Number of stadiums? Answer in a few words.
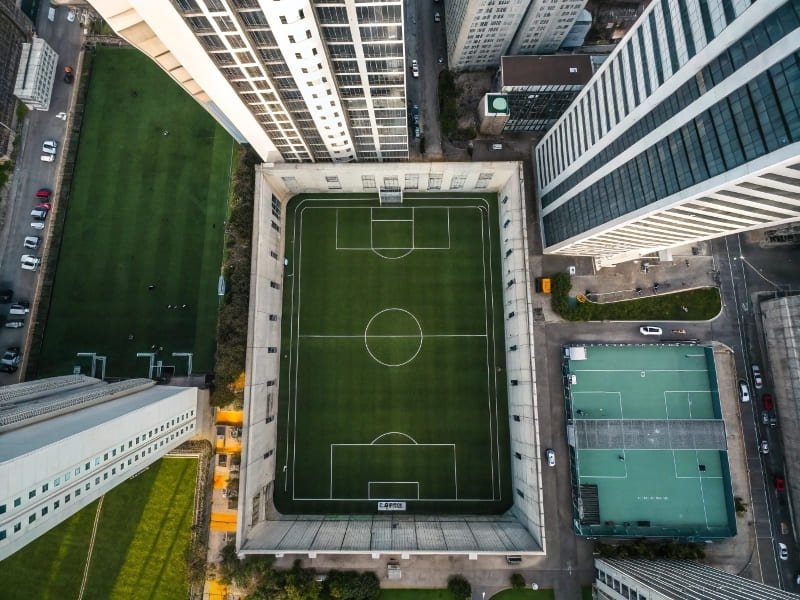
one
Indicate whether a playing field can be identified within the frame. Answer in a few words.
Yes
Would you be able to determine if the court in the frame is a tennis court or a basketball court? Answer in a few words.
tennis court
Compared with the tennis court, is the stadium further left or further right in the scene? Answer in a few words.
to its left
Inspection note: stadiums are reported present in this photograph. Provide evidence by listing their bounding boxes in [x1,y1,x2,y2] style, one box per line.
[236,160,547,561]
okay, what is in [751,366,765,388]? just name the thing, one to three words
car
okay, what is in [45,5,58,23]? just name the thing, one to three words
vehicle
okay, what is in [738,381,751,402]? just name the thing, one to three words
vehicle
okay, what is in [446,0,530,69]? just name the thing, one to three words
building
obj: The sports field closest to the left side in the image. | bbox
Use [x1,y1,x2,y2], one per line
[29,46,236,380]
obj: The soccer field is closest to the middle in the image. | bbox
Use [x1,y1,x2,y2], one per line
[276,192,512,509]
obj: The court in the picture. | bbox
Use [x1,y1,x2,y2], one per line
[563,347,728,527]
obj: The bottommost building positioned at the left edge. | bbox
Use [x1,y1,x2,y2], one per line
[0,373,198,554]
